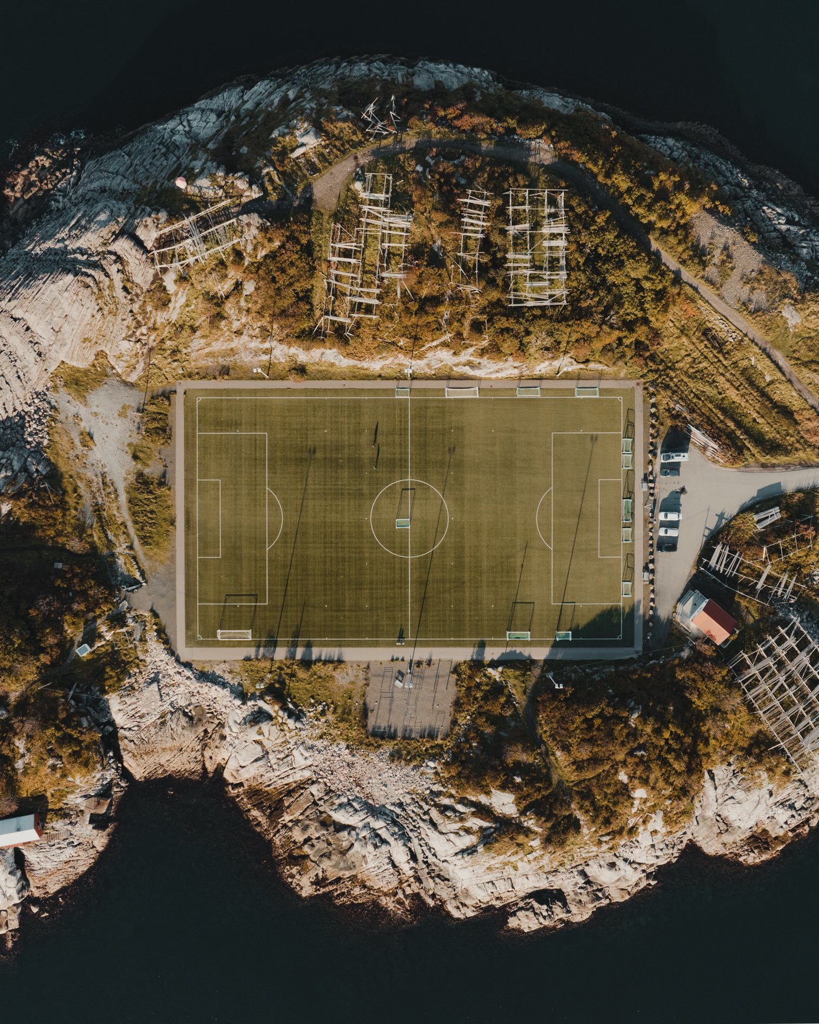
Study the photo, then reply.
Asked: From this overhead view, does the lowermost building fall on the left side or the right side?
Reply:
left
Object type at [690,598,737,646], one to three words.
house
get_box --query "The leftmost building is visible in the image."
[0,813,44,850]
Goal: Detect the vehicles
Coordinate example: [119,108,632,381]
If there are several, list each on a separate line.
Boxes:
[660,512,682,521]
[658,543,678,552]
[660,528,679,536]
[661,468,681,477]
[662,451,690,462]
